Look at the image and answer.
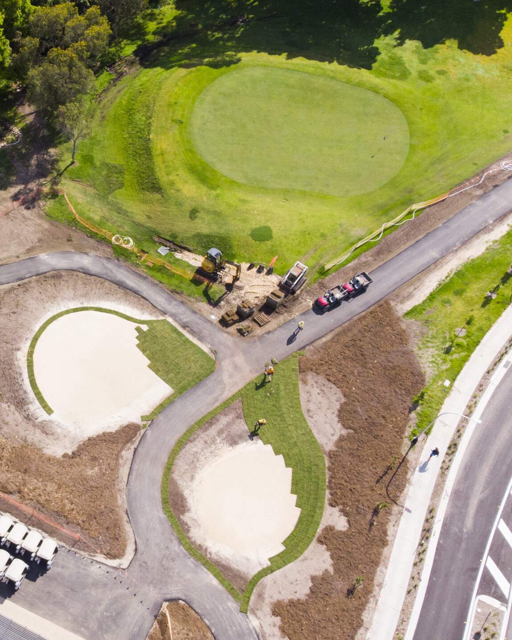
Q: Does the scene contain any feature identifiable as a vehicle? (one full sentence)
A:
Yes, looking at the shot, I can spot a vehicle.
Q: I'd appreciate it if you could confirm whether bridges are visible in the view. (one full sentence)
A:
No, no bridge can be seen from above.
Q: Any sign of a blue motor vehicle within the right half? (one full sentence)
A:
No, no blue motor vehicle appears within the right half.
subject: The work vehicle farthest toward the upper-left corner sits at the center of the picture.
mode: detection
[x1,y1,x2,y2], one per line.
[197,256,243,287]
